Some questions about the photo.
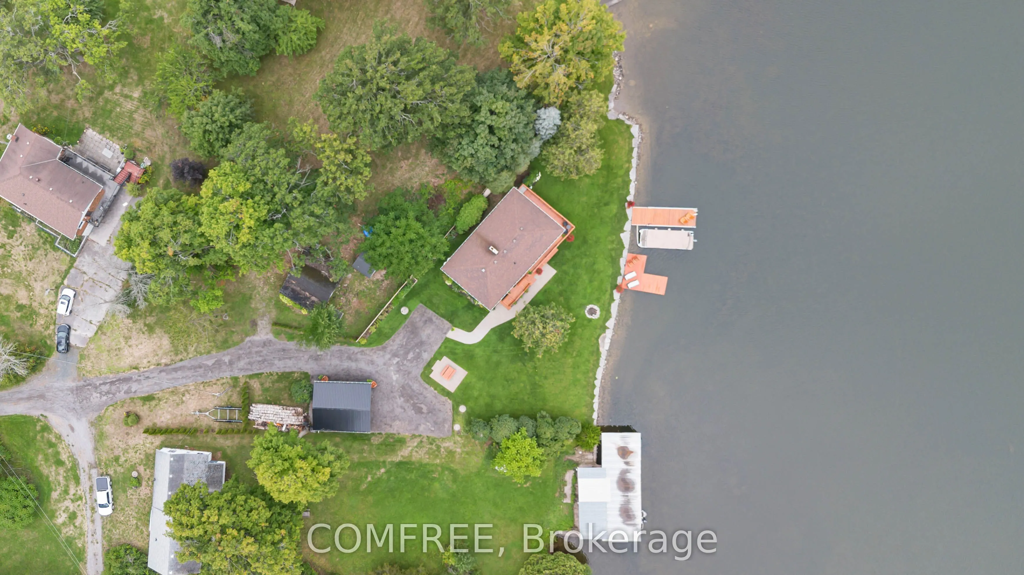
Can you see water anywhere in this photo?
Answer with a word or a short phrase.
Yes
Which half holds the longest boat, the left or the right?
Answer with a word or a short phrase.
right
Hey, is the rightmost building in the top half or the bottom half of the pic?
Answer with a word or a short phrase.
bottom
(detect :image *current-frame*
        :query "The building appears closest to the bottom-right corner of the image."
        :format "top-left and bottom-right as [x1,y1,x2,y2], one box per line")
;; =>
[577,430,641,542]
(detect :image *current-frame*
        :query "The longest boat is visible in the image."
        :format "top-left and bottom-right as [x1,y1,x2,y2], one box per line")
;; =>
[638,229,695,250]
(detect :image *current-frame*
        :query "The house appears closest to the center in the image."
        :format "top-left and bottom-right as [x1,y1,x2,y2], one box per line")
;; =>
[440,186,565,312]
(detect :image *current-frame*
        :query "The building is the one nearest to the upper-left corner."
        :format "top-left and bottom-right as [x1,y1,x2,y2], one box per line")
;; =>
[0,123,107,240]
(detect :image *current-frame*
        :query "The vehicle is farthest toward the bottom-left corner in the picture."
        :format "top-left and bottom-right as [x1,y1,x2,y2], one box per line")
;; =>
[96,475,115,517]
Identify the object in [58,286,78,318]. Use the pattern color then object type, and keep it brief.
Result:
white car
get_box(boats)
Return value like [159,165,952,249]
[638,229,695,250]
[641,513,647,527]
